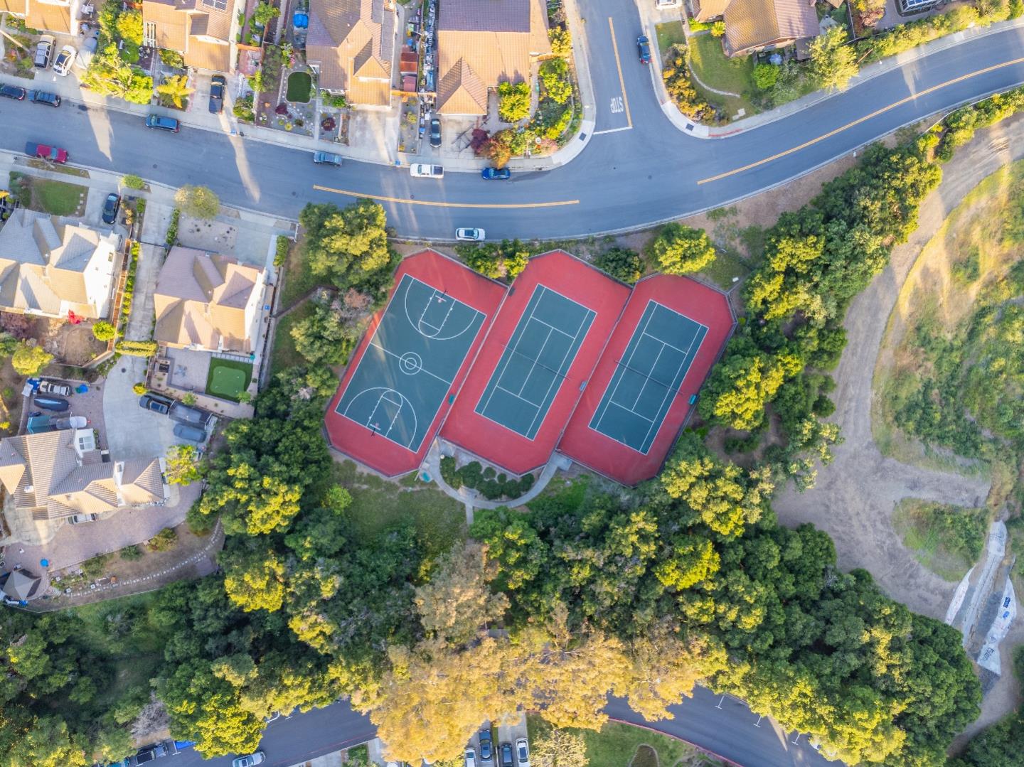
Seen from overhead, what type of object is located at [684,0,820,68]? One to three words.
house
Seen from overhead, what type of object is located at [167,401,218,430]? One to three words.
trailer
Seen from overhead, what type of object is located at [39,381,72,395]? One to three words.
car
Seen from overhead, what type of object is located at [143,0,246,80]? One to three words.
house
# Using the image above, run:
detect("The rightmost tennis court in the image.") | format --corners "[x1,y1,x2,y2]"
[557,273,736,486]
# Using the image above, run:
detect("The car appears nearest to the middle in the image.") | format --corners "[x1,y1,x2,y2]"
[455,227,485,241]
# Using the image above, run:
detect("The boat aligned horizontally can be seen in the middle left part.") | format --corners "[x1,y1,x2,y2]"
[32,396,71,413]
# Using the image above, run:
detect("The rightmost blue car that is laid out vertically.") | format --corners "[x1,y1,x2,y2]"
[636,36,651,65]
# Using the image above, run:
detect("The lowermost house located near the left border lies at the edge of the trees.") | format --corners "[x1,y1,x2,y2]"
[0,426,175,520]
